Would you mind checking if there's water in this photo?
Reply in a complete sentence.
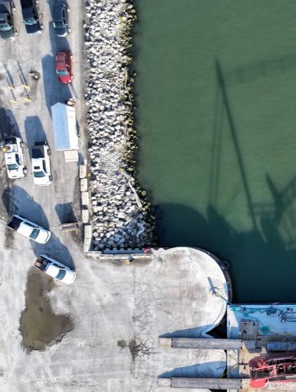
Yes, there's water in this view.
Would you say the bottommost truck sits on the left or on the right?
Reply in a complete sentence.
You can find the bottommost truck on the left side of the picture.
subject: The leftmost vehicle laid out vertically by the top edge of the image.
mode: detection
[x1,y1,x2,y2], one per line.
[0,0,20,43]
